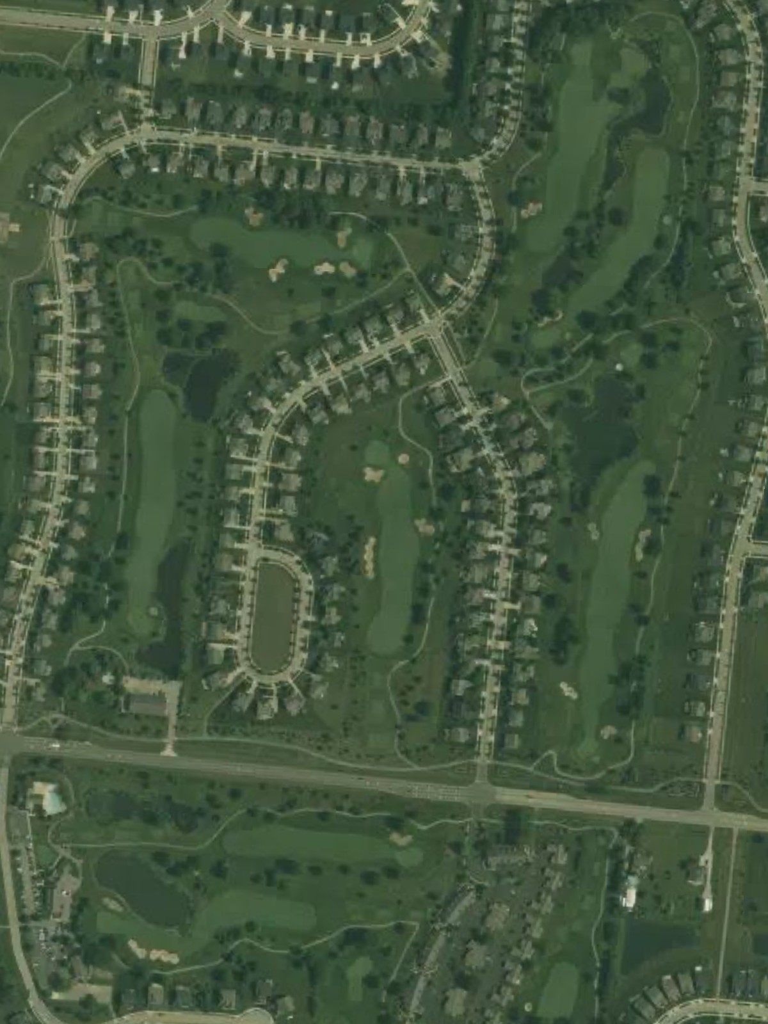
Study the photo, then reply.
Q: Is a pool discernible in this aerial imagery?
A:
Yes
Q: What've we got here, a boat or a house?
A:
house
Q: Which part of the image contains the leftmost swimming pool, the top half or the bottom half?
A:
bottom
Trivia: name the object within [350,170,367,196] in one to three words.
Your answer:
house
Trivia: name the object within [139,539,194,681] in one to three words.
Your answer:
pond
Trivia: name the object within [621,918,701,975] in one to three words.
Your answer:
pond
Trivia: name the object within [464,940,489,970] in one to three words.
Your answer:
building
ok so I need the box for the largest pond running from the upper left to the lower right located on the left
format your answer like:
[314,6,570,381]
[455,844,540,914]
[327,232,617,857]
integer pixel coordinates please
[94,847,190,930]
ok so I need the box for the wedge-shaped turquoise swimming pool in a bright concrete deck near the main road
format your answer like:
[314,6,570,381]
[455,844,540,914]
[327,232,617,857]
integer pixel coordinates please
[27,782,66,815]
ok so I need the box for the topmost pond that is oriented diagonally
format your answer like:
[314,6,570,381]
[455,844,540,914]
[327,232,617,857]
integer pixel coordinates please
[598,66,671,194]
